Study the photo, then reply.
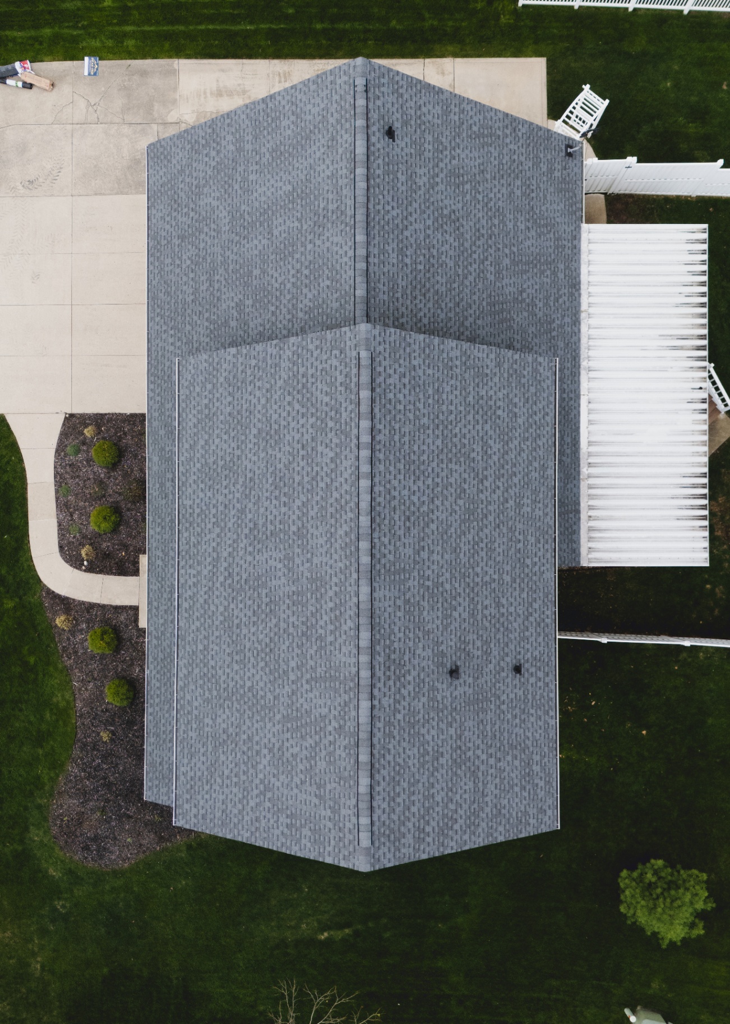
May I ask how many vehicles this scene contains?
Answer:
0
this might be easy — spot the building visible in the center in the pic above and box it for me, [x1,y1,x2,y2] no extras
[142,55,586,873]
